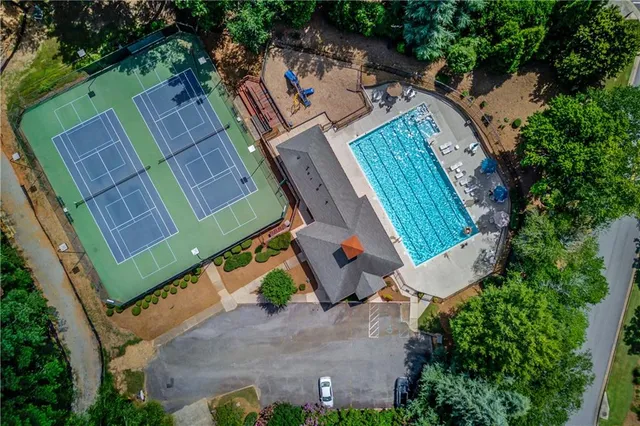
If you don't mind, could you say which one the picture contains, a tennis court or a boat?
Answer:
tennis court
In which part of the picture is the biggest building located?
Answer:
center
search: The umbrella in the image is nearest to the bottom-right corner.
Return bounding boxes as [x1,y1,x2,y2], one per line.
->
[493,211,509,227]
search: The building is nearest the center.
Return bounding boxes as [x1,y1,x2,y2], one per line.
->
[276,125,404,304]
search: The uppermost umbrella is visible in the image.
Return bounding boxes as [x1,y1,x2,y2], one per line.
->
[387,82,402,97]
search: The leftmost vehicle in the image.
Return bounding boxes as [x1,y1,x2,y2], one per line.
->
[319,376,334,409]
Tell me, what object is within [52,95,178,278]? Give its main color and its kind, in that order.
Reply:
blue tennis court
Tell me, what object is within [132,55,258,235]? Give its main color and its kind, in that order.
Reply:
blue tennis court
